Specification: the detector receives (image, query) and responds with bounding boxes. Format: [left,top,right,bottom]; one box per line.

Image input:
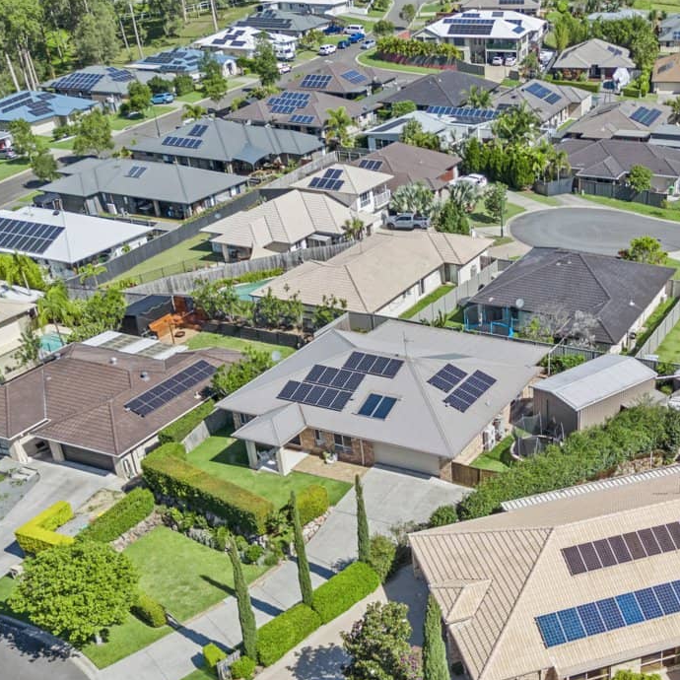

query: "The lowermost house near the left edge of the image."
[0,342,252,486]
